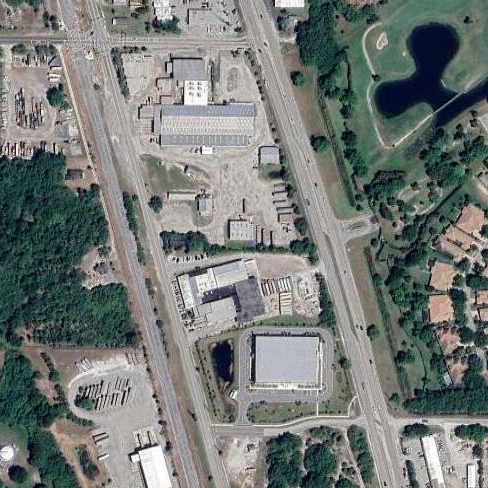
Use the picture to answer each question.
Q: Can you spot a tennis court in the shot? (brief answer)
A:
No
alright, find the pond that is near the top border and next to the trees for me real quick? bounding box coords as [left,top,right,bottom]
[375,22,488,123]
